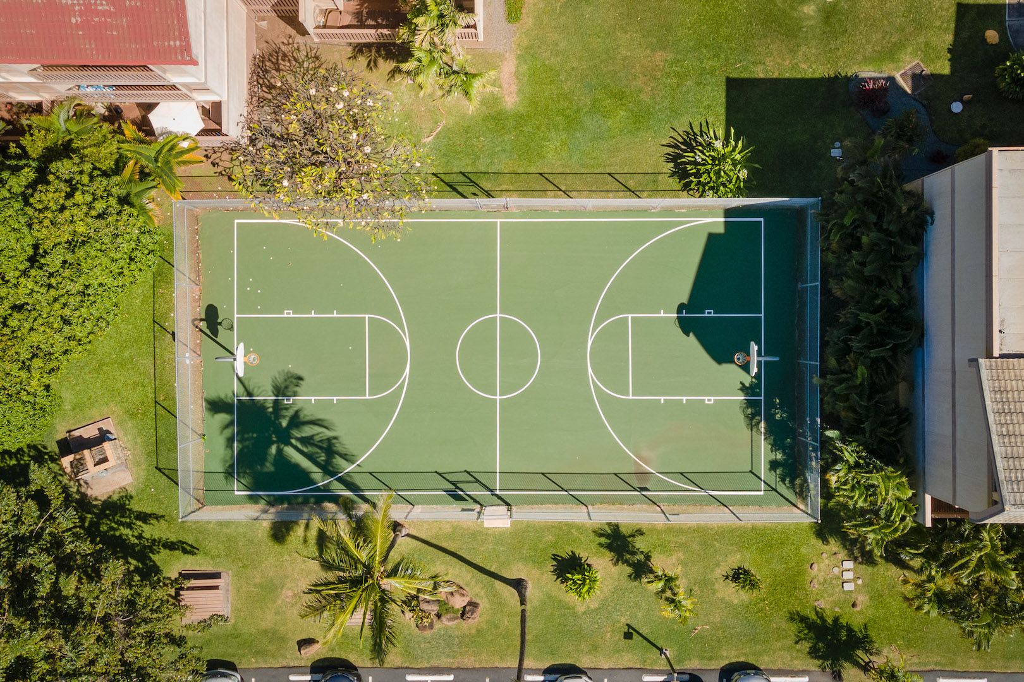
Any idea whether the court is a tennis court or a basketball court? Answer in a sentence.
Specifically, the court is a basketball court.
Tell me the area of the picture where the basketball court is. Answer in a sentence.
The basketball court is located in the center region of the scene.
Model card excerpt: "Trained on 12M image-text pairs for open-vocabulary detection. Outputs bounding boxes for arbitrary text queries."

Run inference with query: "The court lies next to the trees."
[202,210,796,506]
